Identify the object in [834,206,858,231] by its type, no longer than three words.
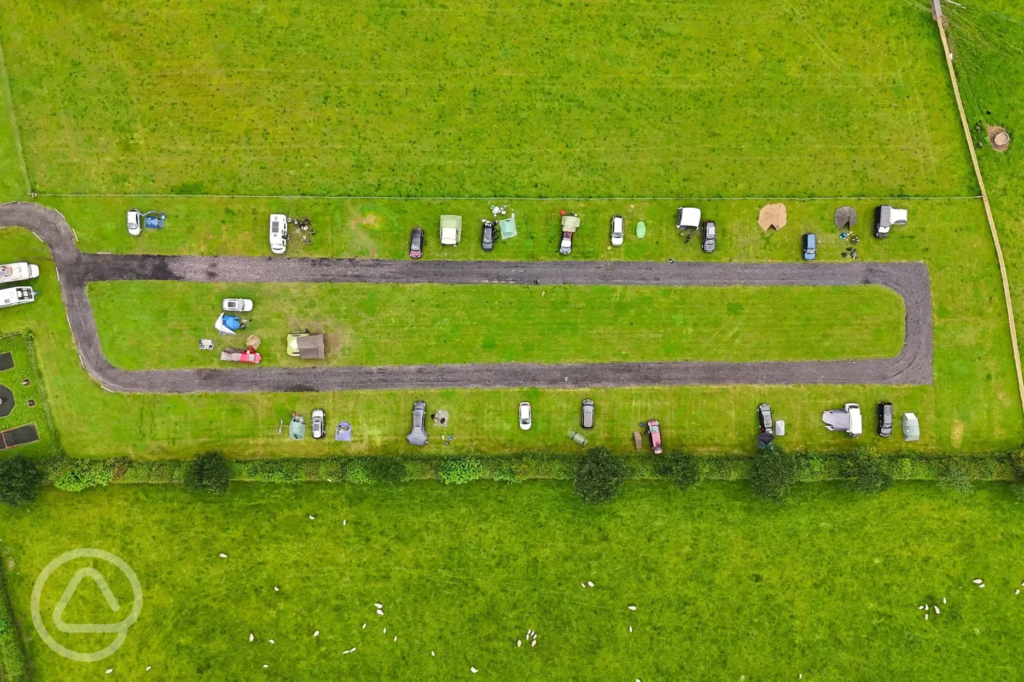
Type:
tent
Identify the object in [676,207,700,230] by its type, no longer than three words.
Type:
gazebo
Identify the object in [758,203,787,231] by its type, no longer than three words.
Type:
tent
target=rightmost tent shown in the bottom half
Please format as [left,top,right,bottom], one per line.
[903,413,920,441]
